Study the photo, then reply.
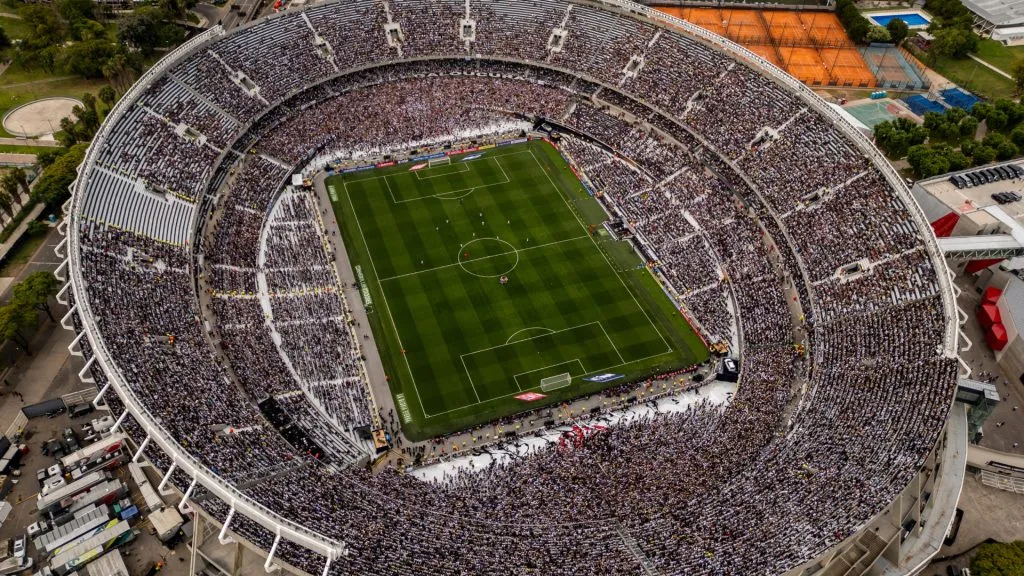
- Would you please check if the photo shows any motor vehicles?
Yes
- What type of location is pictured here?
sports ground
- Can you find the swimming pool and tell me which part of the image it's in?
top right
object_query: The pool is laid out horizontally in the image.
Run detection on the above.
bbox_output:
[859,9,935,30]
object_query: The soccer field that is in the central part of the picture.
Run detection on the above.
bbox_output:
[321,137,714,441]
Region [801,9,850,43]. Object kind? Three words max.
tennis court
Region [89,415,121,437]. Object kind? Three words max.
vehicle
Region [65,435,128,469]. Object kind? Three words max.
trailer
